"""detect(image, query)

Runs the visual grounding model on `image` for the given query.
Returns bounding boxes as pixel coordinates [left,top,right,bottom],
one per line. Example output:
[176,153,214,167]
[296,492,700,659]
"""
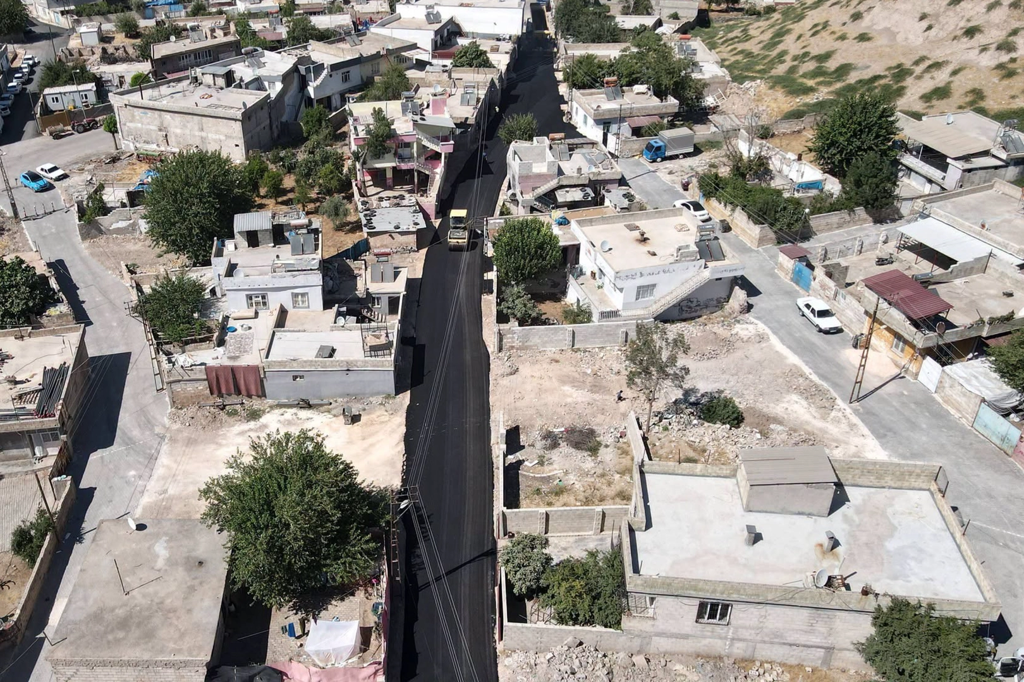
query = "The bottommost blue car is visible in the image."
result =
[17,171,50,192]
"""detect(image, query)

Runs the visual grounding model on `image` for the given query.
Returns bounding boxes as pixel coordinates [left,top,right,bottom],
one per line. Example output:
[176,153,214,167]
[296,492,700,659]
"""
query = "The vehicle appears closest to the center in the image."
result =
[445,212,470,255]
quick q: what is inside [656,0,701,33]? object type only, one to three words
house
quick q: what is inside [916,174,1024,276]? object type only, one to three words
house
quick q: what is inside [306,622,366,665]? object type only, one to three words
tent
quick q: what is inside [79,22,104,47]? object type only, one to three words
shed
